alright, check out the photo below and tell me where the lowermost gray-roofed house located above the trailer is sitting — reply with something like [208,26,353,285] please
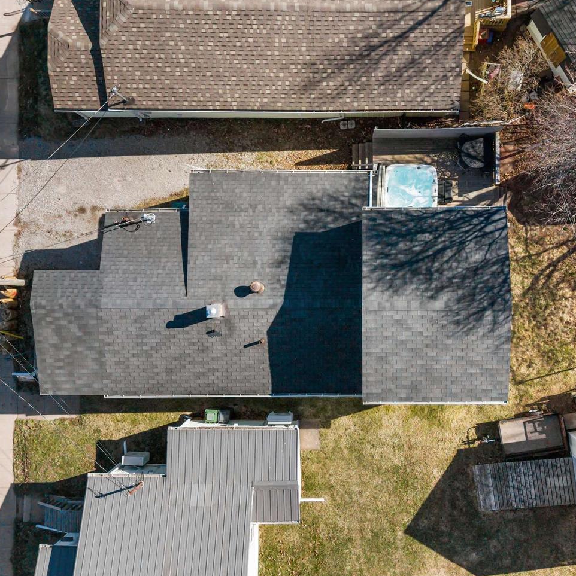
[13,167,514,408]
